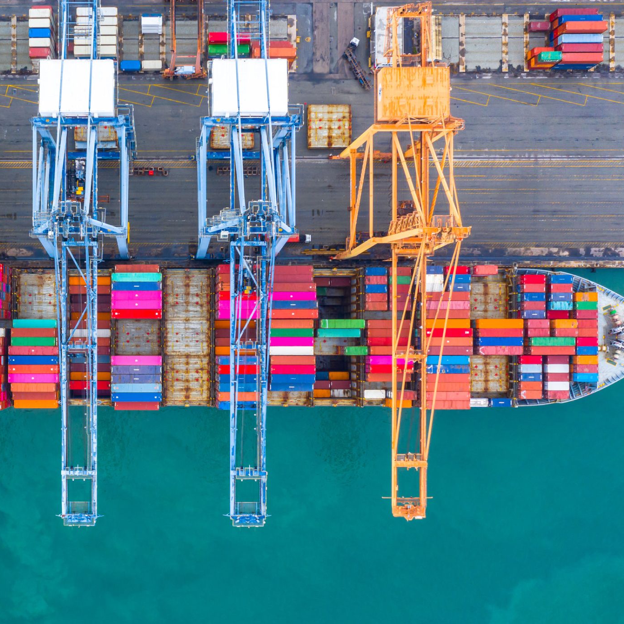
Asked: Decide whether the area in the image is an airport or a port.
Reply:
port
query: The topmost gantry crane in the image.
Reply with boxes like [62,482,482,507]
[162,0,208,78]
